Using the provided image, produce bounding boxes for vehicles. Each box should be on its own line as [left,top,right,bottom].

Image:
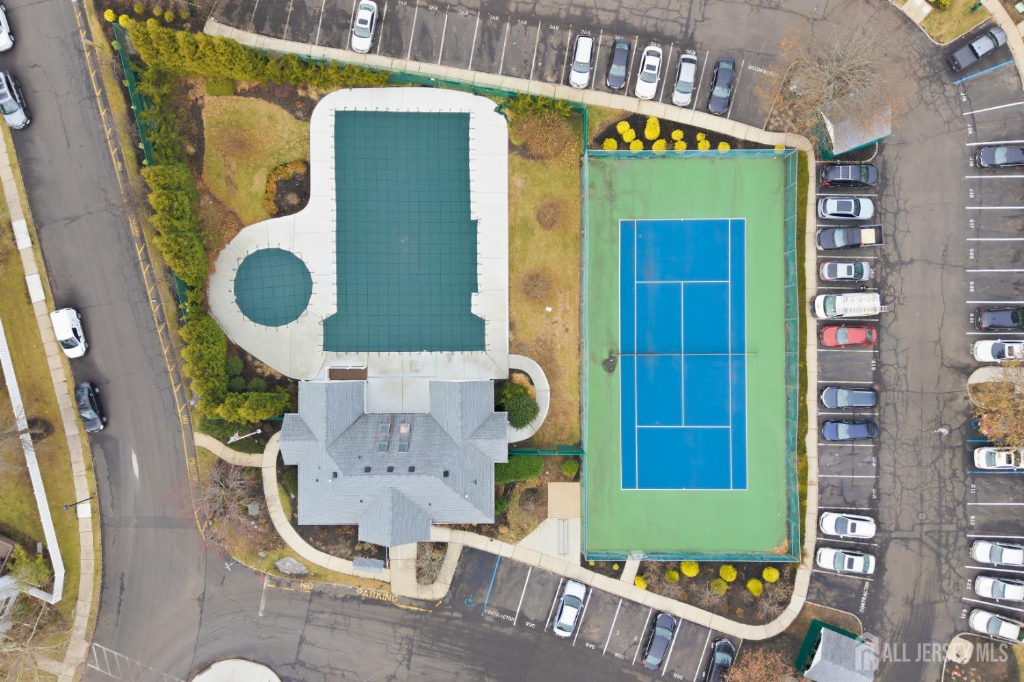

[969,574,1024,602]
[553,579,585,637]
[819,160,877,188]
[706,56,735,116]
[566,34,595,91]
[0,74,33,130]
[811,291,887,319]
[814,546,873,574]
[47,305,90,360]
[642,611,674,669]
[703,637,736,682]
[966,608,1024,641]
[941,25,1009,77]
[819,259,869,284]
[670,53,698,109]
[967,539,1024,566]
[634,45,662,102]
[817,194,873,221]
[972,305,1024,332]
[350,0,378,56]
[819,418,876,443]
[971,338,1024,364]
[817,511,875,538]
[816,223,884,250]
[76,382,109,432]
[971,143,1024,169]
[604,37,631,92]
[819,322,876,348]
[820,384,877,411]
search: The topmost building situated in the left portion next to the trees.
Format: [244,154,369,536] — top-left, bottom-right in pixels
[279,381,508,547]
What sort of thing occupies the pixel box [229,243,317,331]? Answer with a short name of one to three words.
swimming pool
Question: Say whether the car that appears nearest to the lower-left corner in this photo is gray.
Yes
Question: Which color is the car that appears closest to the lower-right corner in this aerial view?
white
